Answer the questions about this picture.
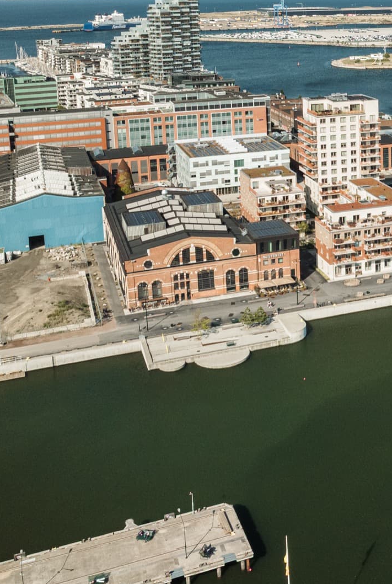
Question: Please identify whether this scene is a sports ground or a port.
port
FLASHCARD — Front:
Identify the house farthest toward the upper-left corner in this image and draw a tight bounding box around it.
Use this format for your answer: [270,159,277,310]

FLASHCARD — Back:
[38,40,67,70]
